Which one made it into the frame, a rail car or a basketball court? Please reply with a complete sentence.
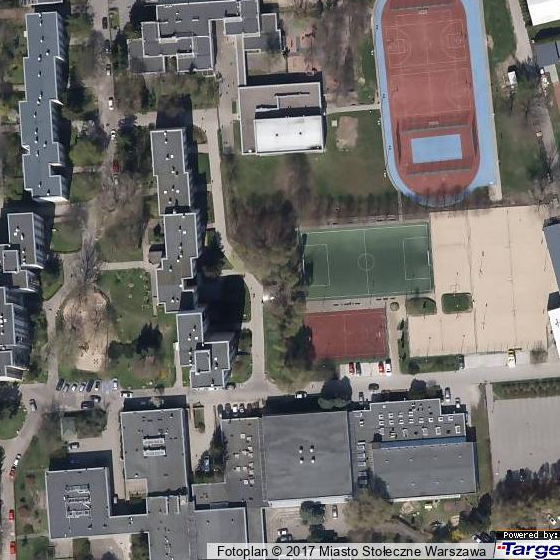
I can see a basketball court in this picture.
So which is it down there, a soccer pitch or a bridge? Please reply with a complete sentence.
I can see a soccer pitch in this picture.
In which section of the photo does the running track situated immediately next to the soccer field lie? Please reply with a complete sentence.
The running track situated immediately next to the soccer field is located in the top right region of the scene.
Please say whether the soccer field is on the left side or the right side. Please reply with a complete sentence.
The soccer field appears in the right half of the scene.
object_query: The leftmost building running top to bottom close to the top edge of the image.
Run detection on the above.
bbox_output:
[19,12,69,202]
